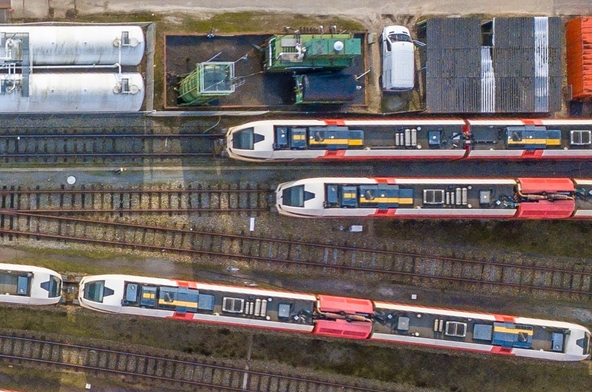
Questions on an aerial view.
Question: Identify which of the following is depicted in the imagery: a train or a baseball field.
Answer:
train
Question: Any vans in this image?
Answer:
Yes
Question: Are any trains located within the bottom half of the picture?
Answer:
Yes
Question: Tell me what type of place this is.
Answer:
industrial area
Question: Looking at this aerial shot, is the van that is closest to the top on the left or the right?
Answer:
right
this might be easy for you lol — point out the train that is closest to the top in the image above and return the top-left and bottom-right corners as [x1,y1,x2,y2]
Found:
[218,120,592,161]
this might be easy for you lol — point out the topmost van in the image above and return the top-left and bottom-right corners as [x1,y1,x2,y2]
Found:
[383,25,426,91]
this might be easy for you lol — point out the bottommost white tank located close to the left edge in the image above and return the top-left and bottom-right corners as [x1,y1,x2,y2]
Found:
[0,73,145,114]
